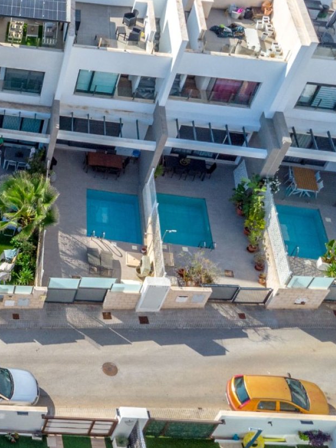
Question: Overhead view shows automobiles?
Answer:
Yes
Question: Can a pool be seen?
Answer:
Yes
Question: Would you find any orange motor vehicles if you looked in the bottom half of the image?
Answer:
Yes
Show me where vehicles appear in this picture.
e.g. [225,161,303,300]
[0,368,40,407]
[223,371,332,412]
